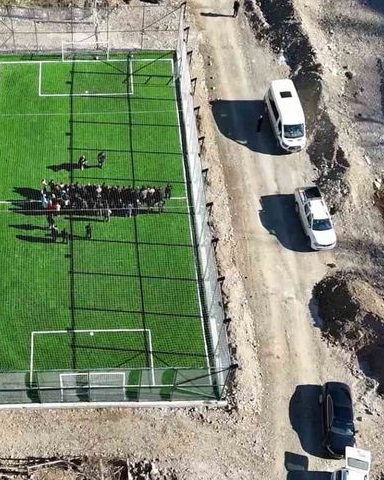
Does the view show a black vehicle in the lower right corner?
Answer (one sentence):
Yes, you'll find a black vehicle in the lower right corner.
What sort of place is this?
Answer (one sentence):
The picture captures a sports ground.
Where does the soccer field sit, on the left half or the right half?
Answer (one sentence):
The soccer field appears in the left half of the scene.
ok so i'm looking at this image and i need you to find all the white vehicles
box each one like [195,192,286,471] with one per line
[335,452,371,480]
[294,186,337,252]
[266,81,308,151]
